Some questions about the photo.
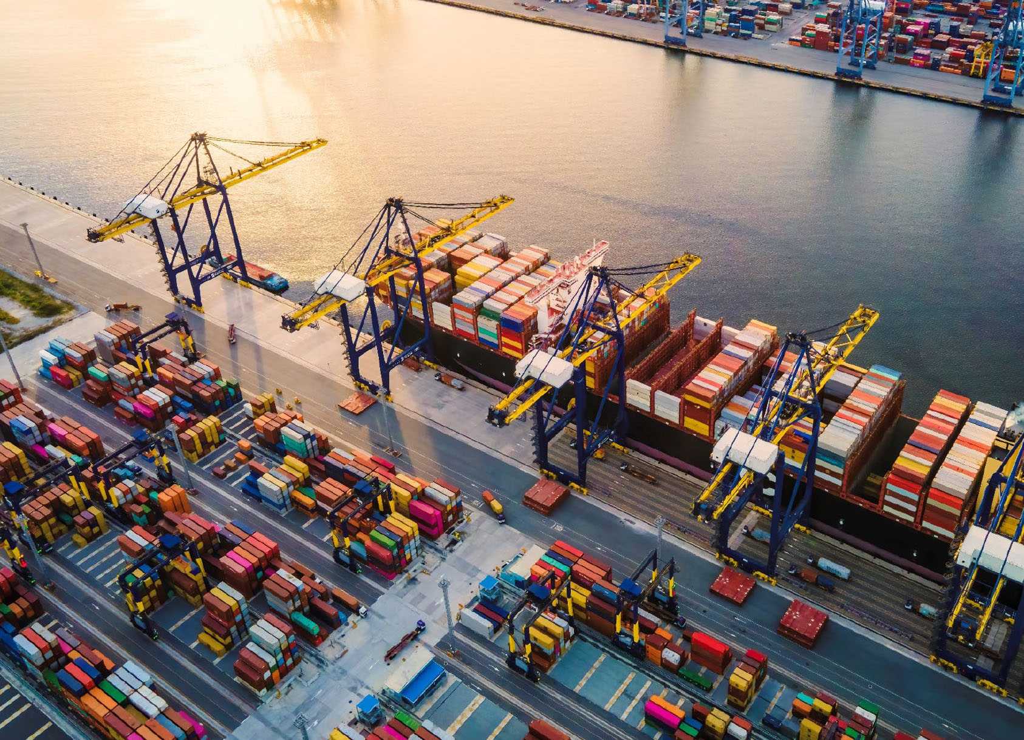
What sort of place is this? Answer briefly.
port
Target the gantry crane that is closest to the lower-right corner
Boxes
[935,470,1024,694]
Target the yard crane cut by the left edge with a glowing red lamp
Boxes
[0,521,35,581]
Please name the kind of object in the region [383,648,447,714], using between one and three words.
building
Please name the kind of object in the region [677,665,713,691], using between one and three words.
shipping container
